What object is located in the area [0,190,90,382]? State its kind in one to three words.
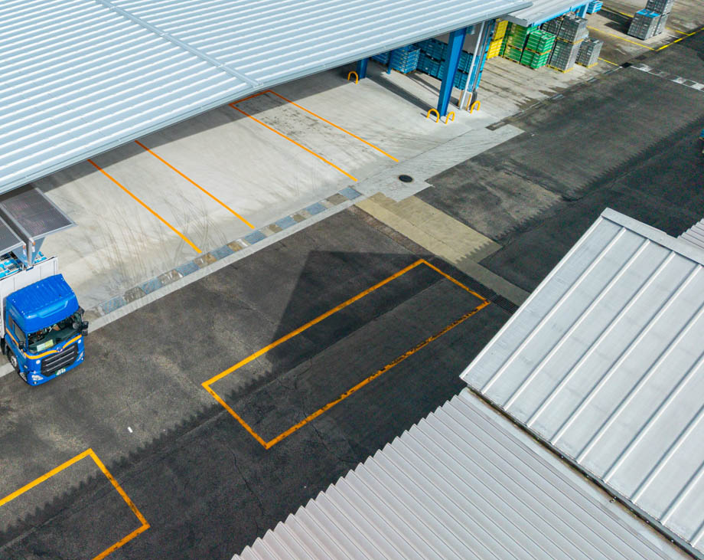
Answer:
truck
